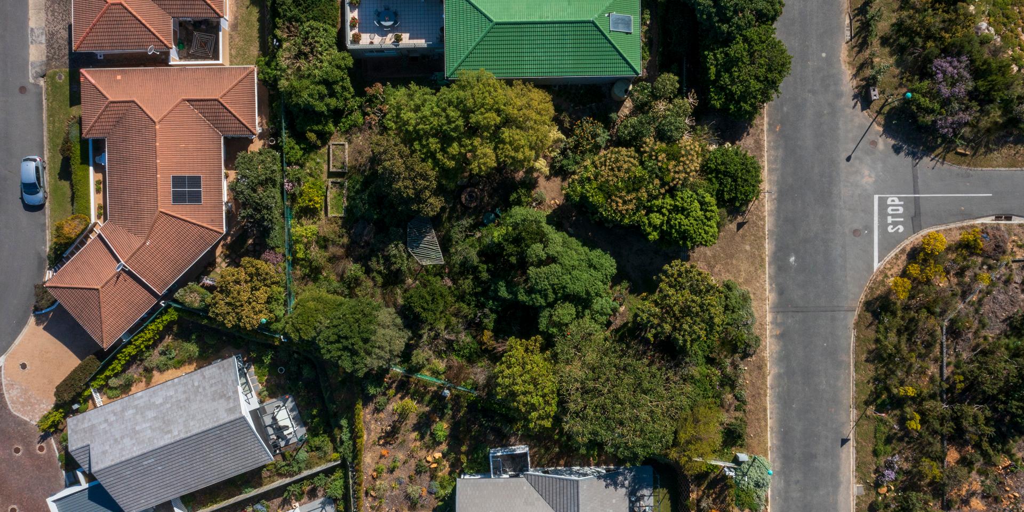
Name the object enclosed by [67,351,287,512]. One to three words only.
house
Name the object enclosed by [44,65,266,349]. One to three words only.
house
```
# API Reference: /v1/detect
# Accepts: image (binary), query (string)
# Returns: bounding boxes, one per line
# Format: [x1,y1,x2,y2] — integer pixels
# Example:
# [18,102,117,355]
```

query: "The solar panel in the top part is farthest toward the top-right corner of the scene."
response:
[614,10,636,33]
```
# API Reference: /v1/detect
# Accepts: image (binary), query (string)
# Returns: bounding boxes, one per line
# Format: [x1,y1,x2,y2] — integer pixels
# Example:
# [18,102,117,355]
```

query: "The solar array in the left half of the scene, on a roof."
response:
[169,174,204,205]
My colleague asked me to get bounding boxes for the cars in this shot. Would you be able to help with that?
[19,156,50,206]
